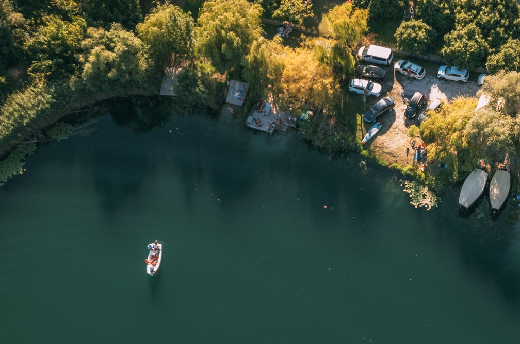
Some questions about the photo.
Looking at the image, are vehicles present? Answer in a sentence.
Yes, a vehicle can be made out from above.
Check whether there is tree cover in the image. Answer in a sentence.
Yes, there is tree cover in the image.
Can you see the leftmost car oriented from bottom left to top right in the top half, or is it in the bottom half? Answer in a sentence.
Seen from above, the leftmost car oriented from bottom left to top right lies in the top half of the view.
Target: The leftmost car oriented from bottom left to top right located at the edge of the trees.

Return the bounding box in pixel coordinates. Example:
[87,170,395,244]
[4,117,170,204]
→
[362,97,397,124]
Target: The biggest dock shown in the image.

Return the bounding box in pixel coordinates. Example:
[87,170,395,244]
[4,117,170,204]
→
[246,96,302,135]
